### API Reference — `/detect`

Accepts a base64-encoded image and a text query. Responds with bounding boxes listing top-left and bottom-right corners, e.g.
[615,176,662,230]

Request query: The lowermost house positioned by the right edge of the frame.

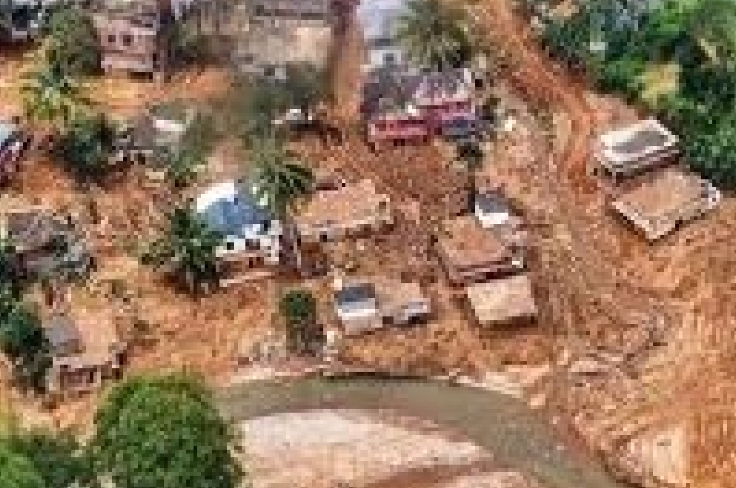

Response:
[612,158,721,248]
